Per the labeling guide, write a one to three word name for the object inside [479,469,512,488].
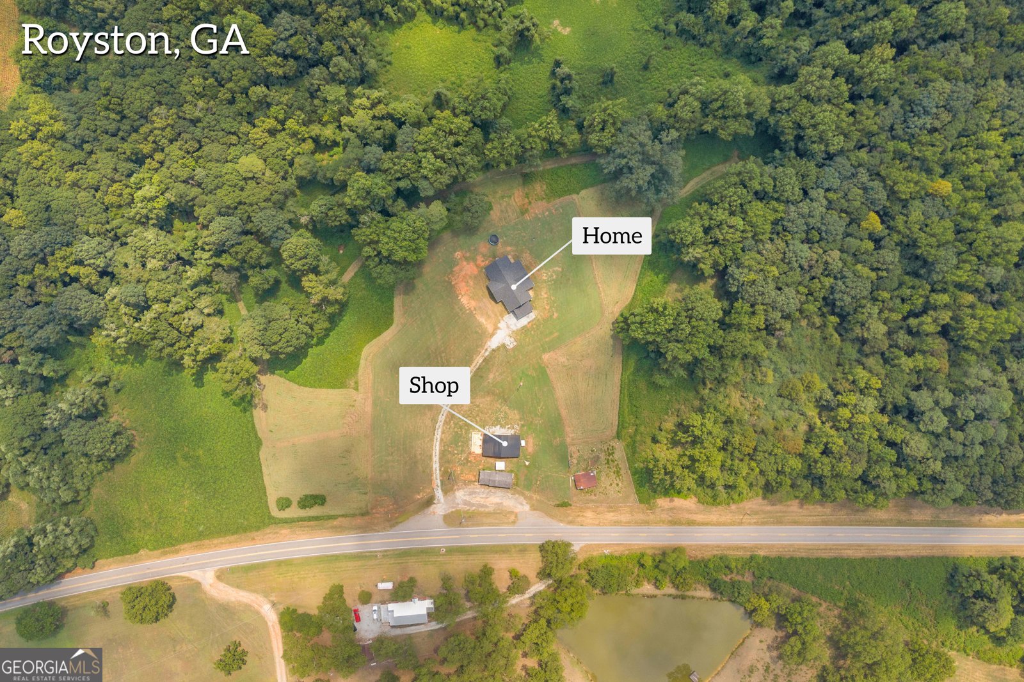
shed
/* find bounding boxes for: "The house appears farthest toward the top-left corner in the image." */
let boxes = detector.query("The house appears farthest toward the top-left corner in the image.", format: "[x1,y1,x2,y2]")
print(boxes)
[484,255,535,322]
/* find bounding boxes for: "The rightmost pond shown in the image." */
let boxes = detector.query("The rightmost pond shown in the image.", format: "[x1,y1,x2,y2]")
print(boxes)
[557,593,752,682]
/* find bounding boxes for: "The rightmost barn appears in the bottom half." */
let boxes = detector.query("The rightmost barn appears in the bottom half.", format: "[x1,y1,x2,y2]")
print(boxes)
[574,471,597,489]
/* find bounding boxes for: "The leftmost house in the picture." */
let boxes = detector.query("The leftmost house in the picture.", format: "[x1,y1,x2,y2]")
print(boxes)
[381,596,434,626]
